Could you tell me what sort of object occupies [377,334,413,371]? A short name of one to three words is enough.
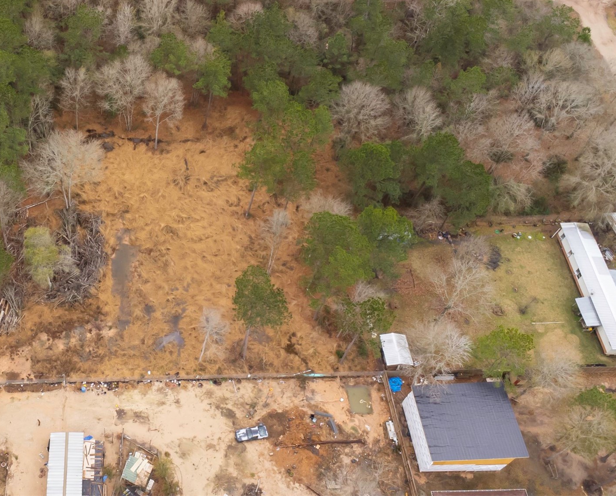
shed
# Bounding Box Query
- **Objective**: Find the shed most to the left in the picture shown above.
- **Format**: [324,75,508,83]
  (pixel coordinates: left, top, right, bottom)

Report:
[46,432,84,496]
